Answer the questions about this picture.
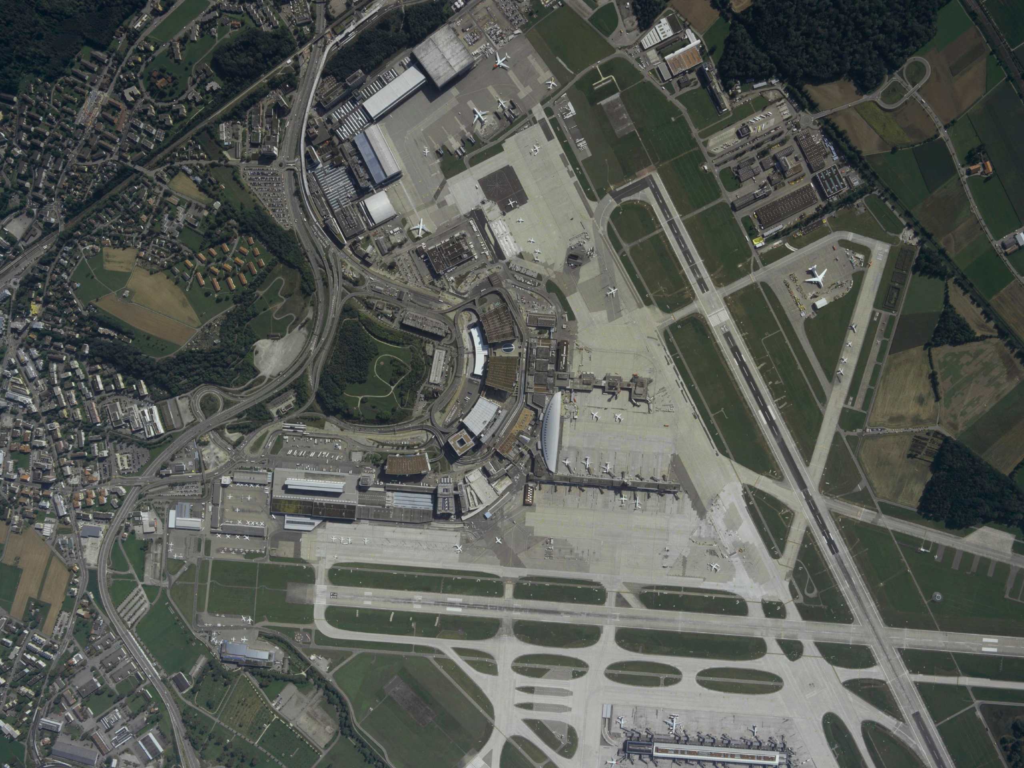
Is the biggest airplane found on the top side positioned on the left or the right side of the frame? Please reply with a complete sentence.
You can find the biggest airplane found on the top side on the right side of the picture.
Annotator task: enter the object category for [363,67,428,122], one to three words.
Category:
hangar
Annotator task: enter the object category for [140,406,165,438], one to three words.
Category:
building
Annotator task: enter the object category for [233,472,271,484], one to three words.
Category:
hangar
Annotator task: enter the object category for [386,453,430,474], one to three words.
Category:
building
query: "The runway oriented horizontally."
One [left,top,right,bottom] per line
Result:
[315,585,1024,657]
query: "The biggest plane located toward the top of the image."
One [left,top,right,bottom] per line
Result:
[807,265,829,287]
